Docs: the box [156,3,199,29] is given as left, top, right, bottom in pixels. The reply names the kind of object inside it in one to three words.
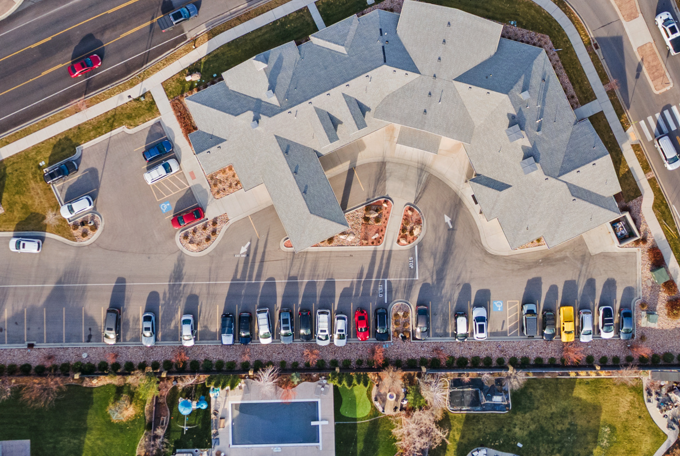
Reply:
truck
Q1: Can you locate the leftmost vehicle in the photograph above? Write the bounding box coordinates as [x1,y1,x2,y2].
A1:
[9,237,42,254]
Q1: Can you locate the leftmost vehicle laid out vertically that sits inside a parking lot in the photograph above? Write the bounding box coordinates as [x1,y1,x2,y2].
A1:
[102,308,121,345]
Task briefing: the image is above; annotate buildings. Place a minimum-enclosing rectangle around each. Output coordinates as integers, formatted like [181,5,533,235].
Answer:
[187,0,621,254]
[646,367,680,382]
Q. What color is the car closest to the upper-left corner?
red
